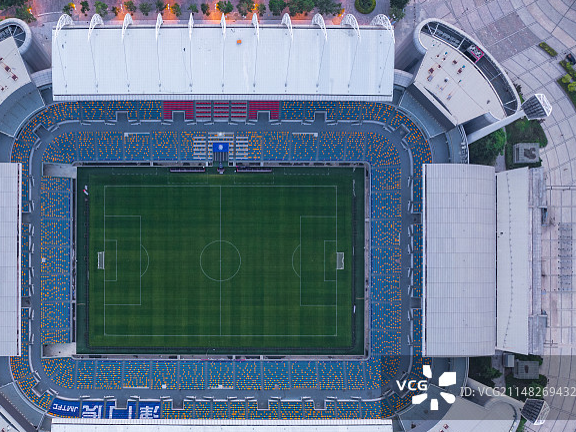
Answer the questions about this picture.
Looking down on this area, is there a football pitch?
Yes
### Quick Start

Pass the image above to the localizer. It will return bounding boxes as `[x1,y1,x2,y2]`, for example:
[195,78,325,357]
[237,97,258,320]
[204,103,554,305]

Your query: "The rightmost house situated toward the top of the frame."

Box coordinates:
[510,142,540,165]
